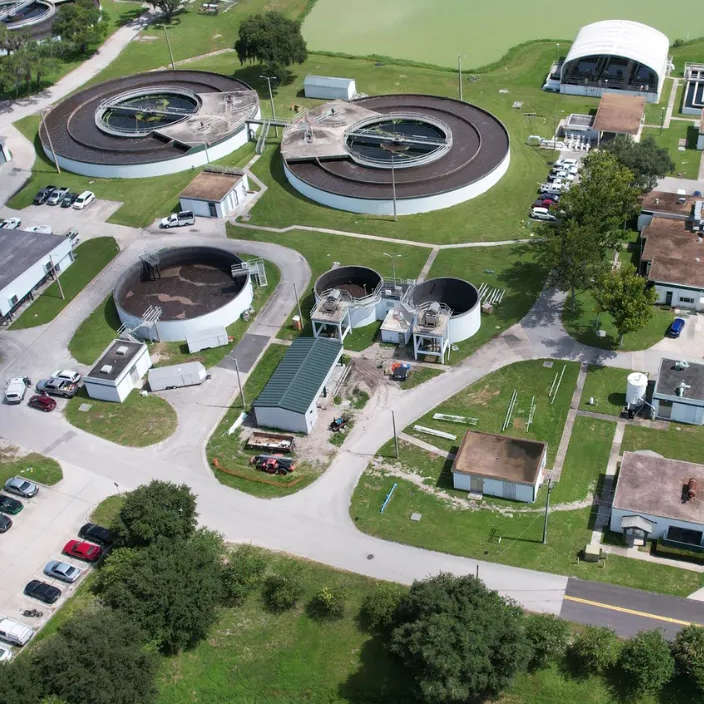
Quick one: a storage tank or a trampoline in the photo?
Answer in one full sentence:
I can see a storage tank in this picture.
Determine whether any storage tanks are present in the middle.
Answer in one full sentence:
Yes, I can see a storage tank in the middle.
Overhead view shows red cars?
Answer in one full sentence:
Yes, there's a red car down there.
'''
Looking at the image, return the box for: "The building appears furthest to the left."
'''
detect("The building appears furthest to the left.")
[0,228,73,315]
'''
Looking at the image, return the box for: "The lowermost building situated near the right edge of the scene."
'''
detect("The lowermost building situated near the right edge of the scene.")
[611,450,704,552]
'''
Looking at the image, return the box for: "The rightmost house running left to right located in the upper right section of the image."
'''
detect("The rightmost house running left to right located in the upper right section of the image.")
[515,114,619,159]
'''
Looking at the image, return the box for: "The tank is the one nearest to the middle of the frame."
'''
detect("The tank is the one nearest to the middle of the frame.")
[309,266,386,347]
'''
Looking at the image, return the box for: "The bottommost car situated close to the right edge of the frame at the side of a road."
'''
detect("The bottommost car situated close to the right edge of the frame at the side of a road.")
[665,311,687,337]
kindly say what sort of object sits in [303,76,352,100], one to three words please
shed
